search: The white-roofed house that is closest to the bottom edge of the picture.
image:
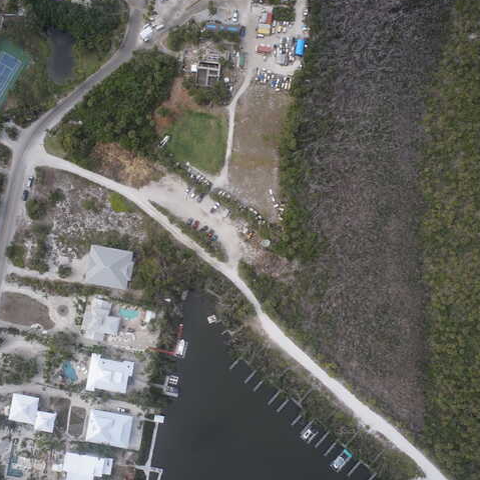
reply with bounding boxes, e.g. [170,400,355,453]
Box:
[52,452,113,480]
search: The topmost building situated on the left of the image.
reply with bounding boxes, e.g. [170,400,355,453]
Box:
[84,245,134,290]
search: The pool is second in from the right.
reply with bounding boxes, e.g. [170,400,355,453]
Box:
[62,359,77,382]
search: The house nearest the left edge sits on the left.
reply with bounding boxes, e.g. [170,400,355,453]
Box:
[9,393,57,433]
